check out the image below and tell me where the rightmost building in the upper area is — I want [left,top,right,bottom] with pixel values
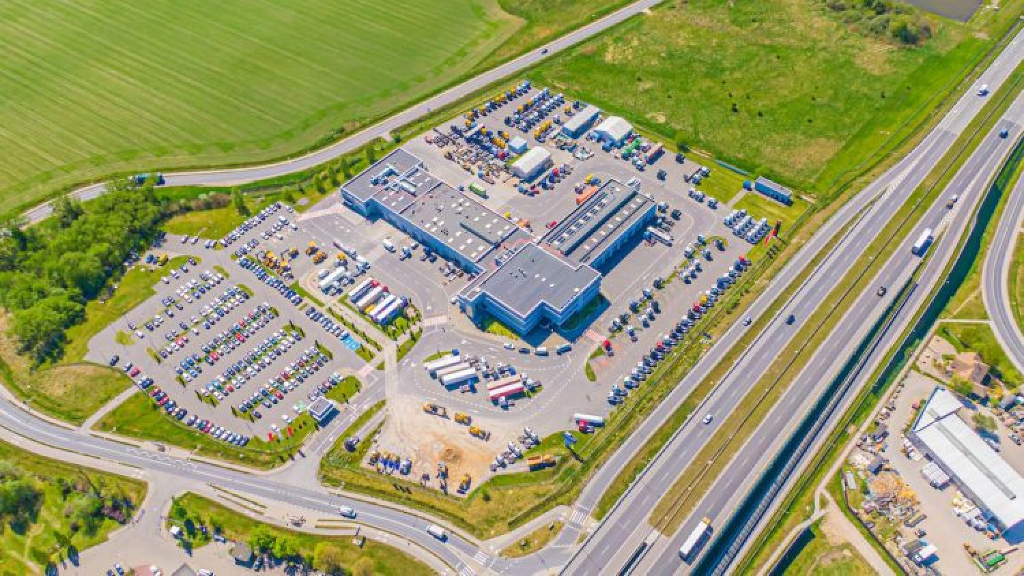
[754,177,792,205]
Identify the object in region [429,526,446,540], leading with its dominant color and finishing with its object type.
white vehicle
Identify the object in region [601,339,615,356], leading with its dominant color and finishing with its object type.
red vehicle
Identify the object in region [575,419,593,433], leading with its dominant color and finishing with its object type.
red vehicle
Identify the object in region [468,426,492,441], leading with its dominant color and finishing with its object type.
yellow work vehicle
